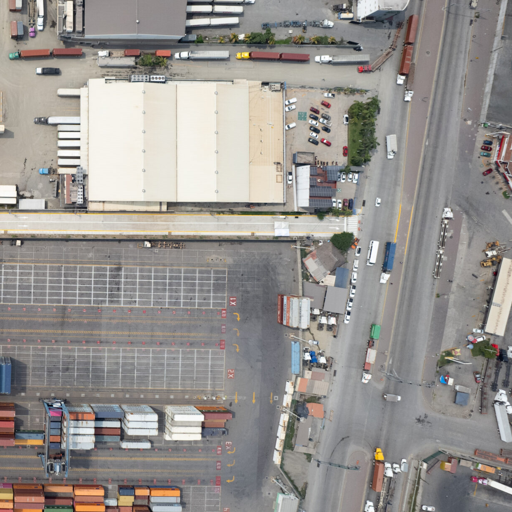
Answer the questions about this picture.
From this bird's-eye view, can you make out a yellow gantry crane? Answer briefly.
No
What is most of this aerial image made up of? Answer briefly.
paved ground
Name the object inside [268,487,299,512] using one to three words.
building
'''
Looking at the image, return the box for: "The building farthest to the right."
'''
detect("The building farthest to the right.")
[485,132,512,194]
